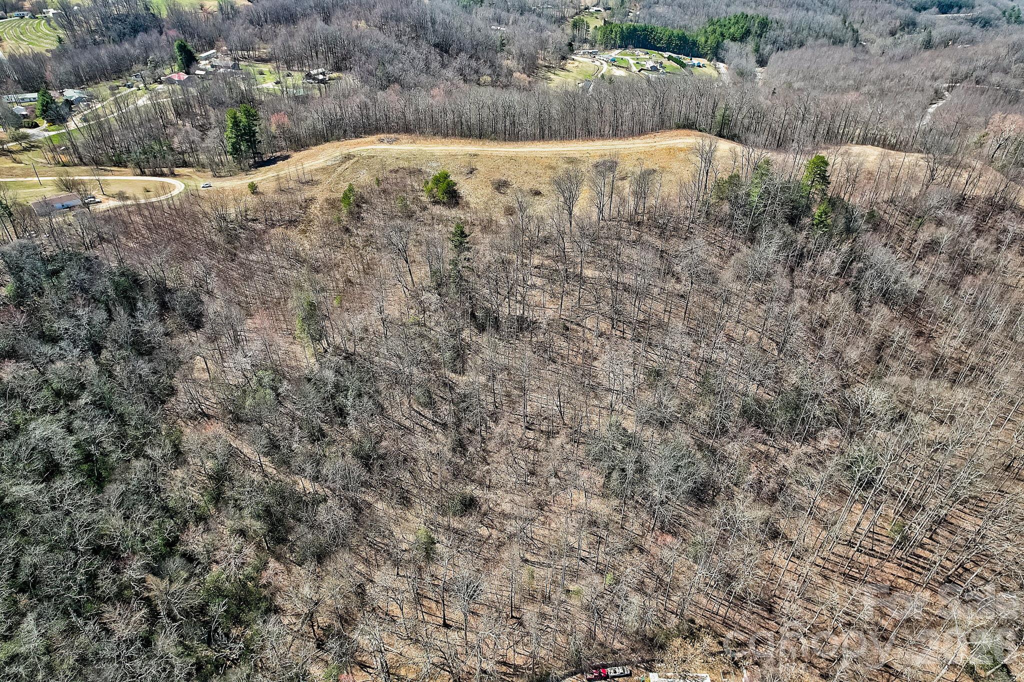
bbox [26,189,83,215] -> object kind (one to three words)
house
